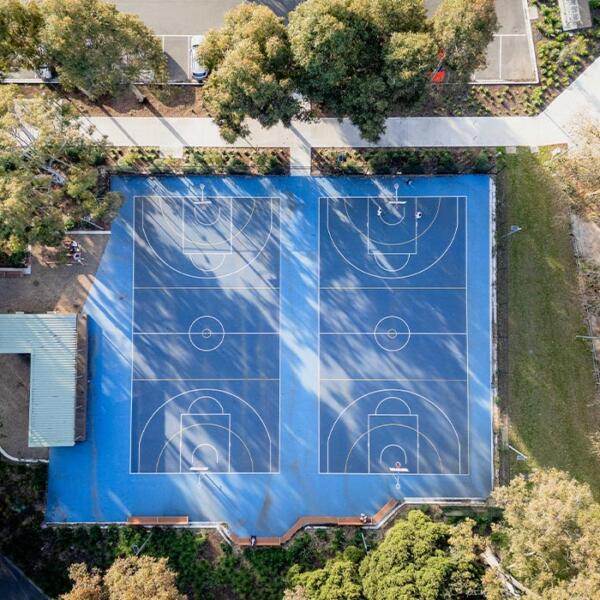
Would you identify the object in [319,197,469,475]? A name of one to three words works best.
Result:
basketball court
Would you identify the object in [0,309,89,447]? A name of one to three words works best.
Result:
building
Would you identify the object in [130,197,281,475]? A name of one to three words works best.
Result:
basketball court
